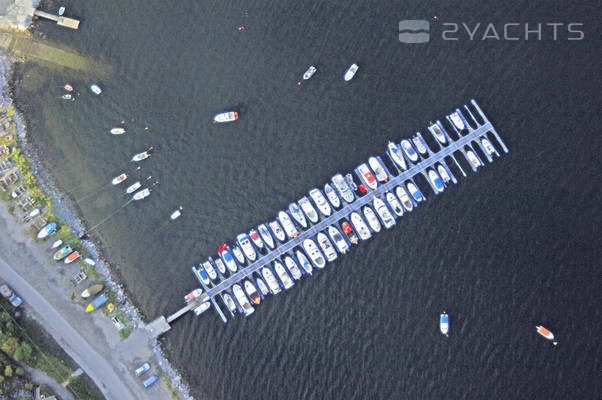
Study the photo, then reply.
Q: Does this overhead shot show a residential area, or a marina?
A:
marina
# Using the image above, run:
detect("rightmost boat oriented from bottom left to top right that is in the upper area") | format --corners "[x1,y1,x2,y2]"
[345,63,359,80]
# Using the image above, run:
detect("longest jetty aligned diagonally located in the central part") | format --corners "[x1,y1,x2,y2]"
[192,99,507,322]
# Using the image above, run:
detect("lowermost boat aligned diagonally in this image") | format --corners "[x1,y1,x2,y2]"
[537,325,554,339]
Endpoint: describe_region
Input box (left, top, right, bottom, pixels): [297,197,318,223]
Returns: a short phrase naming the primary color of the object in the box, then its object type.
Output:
white boat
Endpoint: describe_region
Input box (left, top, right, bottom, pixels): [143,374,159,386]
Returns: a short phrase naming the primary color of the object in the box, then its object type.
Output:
blue vehicle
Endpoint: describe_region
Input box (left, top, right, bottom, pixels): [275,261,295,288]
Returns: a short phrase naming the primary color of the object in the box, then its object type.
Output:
white boat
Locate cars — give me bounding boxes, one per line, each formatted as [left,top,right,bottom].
[9,294,22,307]
[135,362,151,375]
[143,374,159,386]
[0,283,13,299]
